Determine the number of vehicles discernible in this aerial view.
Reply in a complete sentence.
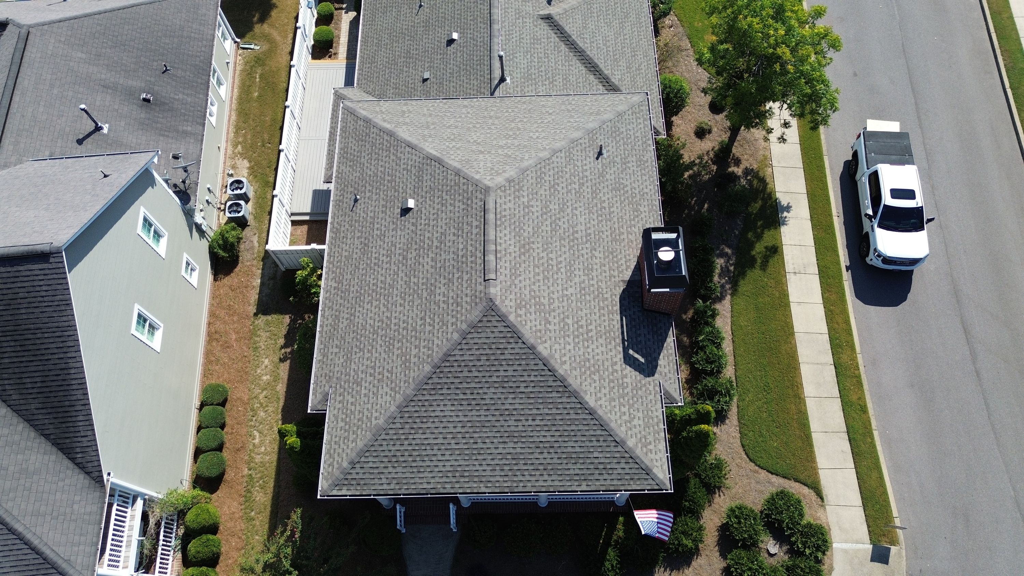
In total, there is 1 vehicle in the scene.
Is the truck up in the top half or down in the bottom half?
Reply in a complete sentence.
It is in the top half that the truck appears.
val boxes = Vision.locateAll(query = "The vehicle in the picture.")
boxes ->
[849,126,935,272]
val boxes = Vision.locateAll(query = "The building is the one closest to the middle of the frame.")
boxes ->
[308,0,690,535]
